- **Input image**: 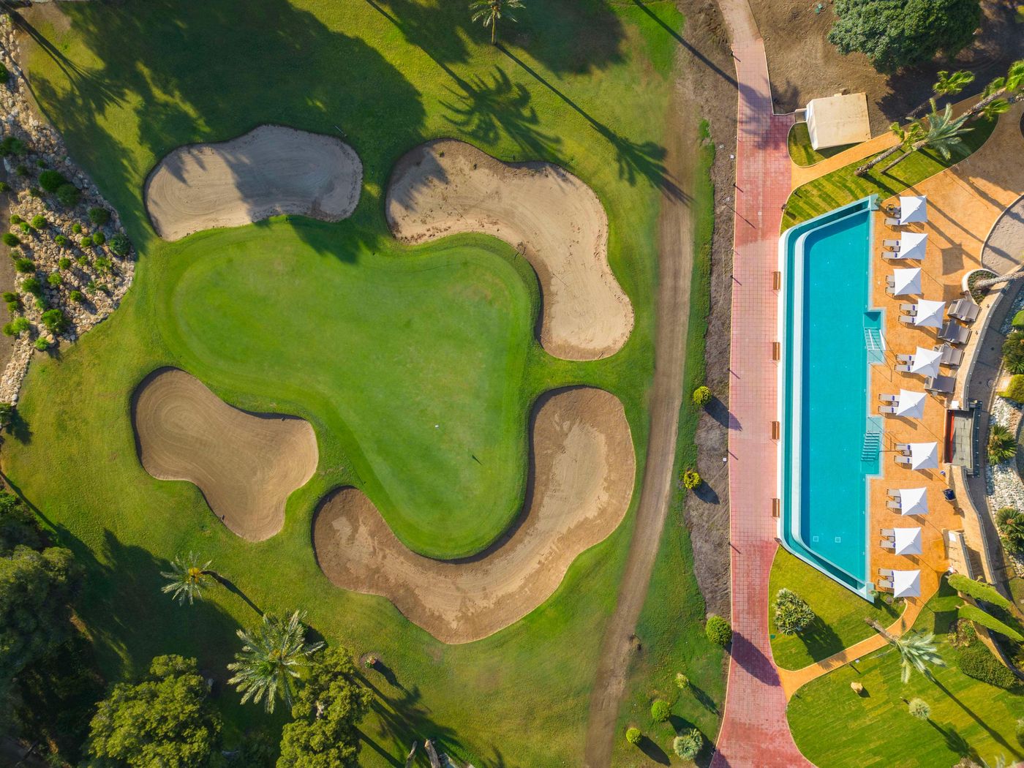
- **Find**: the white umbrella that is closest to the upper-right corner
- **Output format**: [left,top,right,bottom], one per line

[899,196,927,224]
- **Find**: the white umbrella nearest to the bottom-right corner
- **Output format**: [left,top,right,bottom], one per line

[893,570,920,597]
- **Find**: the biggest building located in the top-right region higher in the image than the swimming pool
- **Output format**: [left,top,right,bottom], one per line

[794,92,871,151]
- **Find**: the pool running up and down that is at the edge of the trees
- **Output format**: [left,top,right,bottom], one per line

[776,193,887,603]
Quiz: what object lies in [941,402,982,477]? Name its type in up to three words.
building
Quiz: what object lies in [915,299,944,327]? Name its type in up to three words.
umbrella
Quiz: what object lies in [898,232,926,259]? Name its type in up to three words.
umbrella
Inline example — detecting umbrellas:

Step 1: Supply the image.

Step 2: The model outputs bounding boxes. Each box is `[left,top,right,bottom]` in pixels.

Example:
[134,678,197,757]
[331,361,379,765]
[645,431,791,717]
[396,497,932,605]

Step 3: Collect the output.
[899,196,927,224]
[911,347,942,378]
[898,232,926,259]
[915,299,944,327]
[893,570,920,597]
[899,488,927,515]
[895,388,926,419]
[893,268,921,296]
[893,527,921,555]
[909,441,938,469]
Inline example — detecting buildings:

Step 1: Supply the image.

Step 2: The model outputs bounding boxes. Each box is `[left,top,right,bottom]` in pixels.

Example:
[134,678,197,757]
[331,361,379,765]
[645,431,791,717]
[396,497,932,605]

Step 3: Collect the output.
[941,402,982,477]
[794,92,871,151]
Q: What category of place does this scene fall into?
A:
golf course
